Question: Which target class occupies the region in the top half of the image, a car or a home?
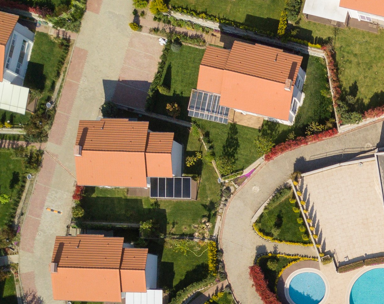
home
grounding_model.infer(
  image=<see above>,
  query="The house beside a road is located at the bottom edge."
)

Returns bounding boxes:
[47,233,162,304]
